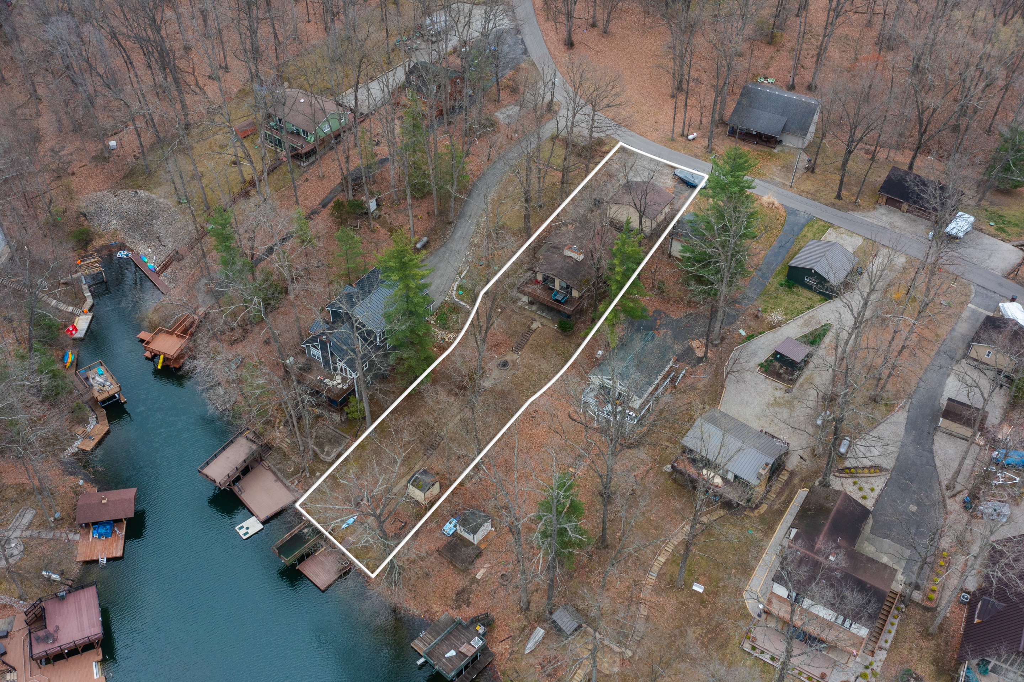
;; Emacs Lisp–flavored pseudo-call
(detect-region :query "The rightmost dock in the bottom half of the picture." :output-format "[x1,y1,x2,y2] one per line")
[410,609,495,682]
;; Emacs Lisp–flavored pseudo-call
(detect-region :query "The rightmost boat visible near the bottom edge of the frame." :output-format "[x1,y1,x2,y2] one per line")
[524,626,545,654]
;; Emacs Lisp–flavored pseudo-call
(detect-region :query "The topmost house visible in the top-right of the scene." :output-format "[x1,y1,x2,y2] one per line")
[724,83,824,152]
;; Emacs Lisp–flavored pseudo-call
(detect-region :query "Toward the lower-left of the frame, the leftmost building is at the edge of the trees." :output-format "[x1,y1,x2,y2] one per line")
[76,483,140,563]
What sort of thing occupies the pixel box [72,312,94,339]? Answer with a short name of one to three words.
pier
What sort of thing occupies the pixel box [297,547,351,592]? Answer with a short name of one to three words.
pier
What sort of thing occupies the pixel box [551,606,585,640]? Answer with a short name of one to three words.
shed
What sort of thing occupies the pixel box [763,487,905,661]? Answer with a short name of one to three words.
house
